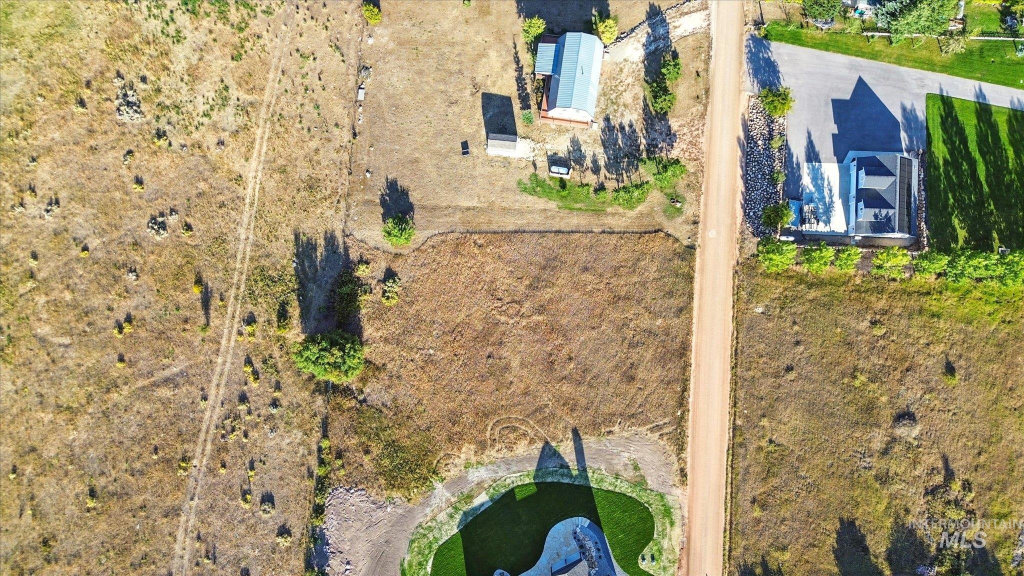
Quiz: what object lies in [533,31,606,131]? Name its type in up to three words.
house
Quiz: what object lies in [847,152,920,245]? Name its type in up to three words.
building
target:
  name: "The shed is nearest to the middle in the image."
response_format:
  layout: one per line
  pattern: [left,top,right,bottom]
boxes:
[486,132,517,158]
